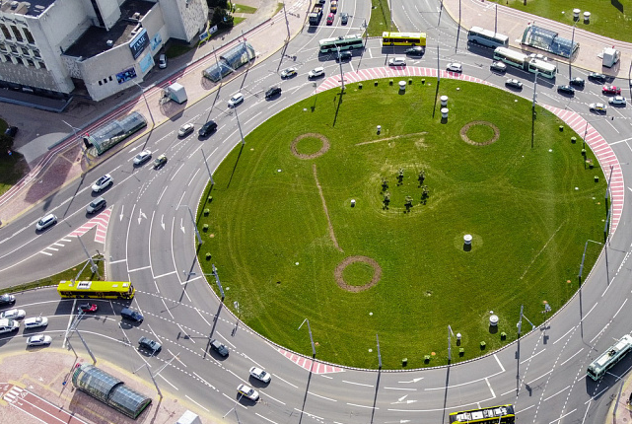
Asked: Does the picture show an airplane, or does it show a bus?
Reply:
bus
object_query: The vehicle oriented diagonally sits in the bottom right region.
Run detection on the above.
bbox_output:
[583,334,632,381]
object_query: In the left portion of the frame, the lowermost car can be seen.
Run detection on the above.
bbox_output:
[235,384,261,402]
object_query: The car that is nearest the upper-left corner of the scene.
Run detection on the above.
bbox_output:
[2,124,21,137]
